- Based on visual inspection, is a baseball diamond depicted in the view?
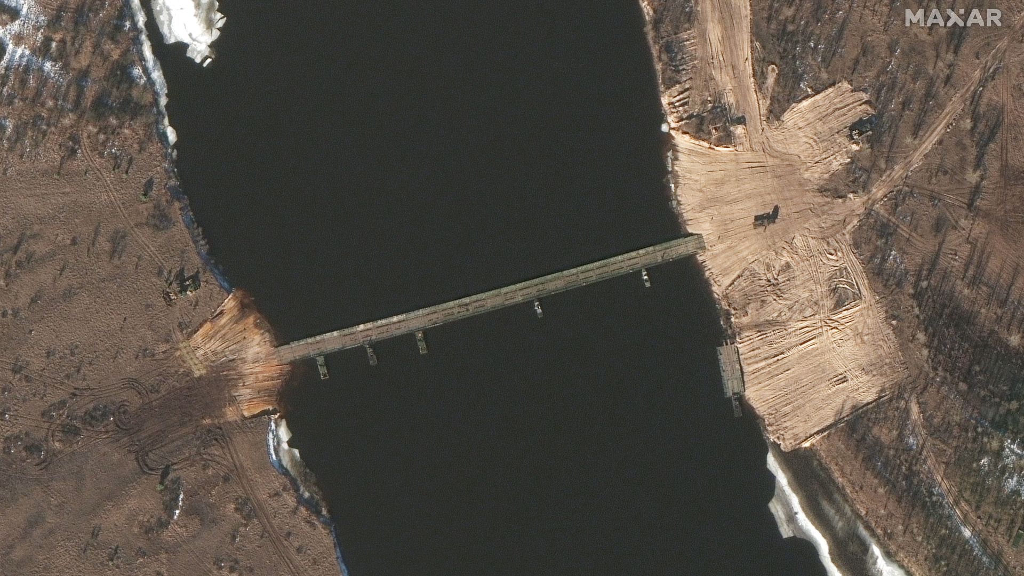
No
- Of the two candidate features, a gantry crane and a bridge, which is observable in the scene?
bridge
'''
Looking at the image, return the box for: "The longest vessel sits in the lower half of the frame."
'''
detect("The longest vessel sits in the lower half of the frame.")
[717,340,745,397]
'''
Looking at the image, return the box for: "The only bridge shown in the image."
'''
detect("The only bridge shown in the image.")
[276,234,709,364]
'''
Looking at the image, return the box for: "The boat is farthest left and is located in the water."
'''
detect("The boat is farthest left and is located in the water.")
[316,356,328,380]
